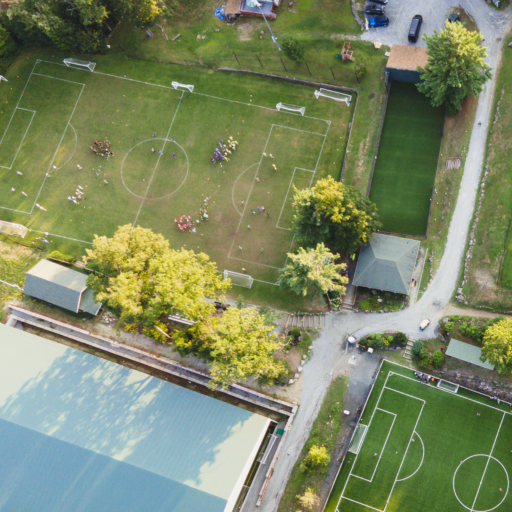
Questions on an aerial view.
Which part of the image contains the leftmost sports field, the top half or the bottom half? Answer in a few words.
top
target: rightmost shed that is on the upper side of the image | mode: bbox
[387,44,428,83]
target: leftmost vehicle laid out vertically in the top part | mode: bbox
[408,15,422,39]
